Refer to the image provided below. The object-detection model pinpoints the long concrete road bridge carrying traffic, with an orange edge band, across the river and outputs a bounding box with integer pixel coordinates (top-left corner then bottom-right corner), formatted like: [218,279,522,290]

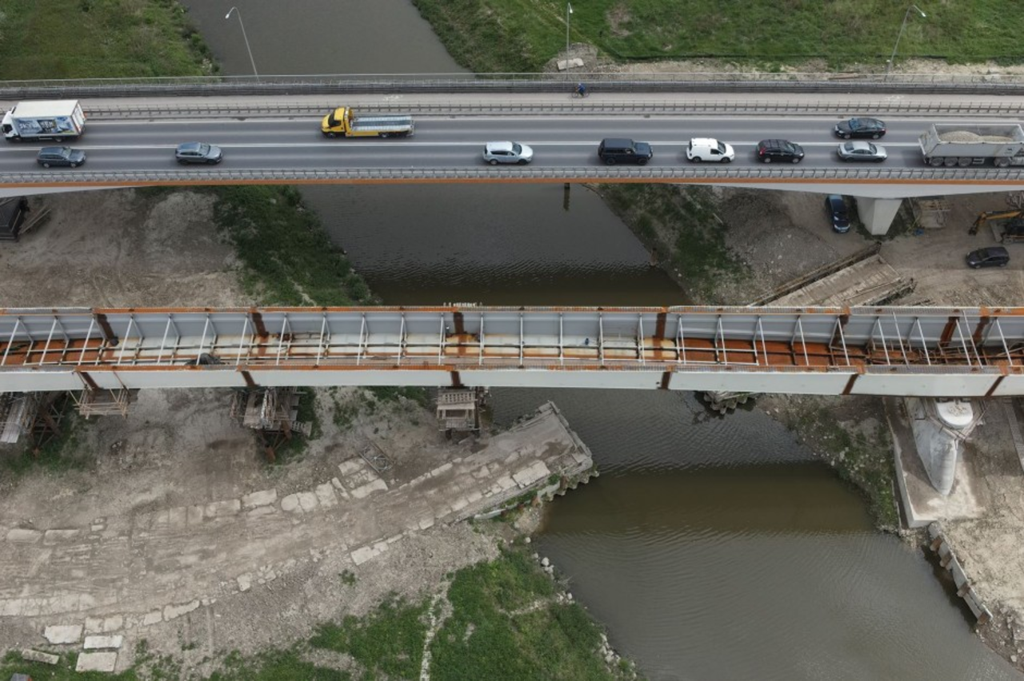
[0,91,1024,234]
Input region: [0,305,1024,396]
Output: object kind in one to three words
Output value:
bridge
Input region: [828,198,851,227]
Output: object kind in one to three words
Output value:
car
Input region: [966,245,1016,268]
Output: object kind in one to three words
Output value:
car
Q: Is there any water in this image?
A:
Yes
